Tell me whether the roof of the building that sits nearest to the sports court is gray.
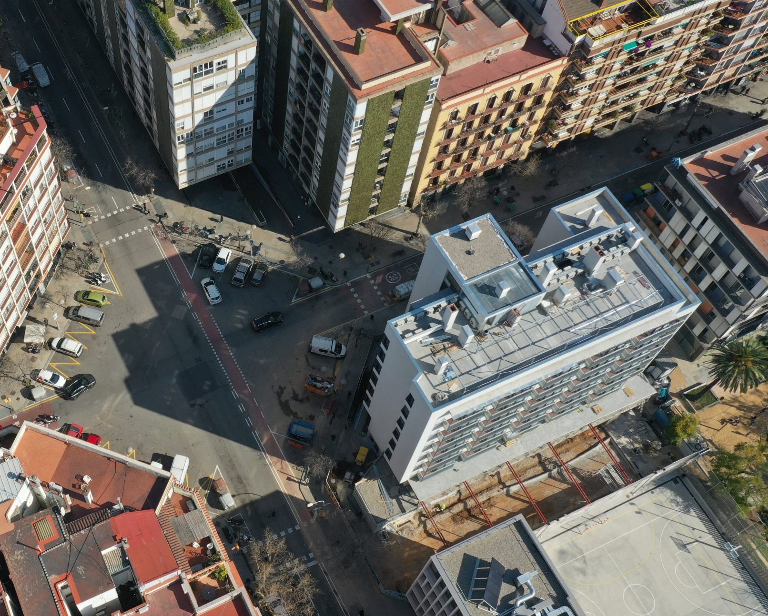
Yes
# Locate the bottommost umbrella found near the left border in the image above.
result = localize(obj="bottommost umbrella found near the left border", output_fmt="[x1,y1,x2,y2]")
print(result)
[25,326,45,344]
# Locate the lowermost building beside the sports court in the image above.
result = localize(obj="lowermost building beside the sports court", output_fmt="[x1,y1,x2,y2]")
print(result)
[405,515,582,616]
